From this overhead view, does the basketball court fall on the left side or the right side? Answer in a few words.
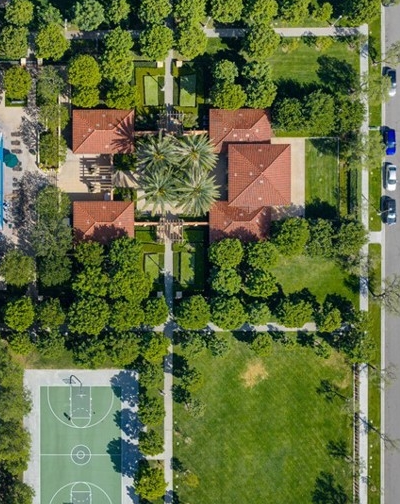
left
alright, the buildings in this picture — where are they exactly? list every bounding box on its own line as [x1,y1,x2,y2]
[207,108,291,244]
[73,109,134,155]
[73,201,134,244]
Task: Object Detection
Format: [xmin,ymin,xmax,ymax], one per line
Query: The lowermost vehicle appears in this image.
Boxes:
[384,197,398,223]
